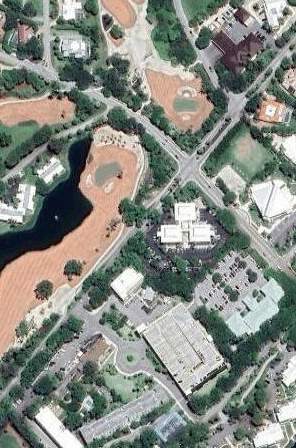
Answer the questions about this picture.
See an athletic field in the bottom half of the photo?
No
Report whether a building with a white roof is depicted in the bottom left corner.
Yes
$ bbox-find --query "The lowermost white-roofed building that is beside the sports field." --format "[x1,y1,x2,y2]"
[250,180,296,220]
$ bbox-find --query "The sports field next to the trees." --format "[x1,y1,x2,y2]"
[225,128,271,181]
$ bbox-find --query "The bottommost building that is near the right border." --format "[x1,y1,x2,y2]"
[254,419,287,448]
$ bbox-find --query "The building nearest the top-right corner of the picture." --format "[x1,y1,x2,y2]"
[262,0,289,28]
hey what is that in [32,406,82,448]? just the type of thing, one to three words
building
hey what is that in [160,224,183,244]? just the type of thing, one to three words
building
